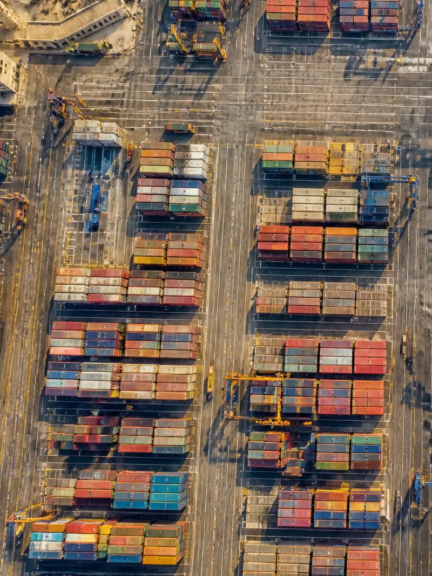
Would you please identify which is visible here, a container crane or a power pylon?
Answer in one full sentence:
This aerial view contains a container crane.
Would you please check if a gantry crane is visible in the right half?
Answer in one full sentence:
Yes, a gantry crane shows up in the right half.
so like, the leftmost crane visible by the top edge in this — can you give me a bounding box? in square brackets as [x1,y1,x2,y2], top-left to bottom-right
[168,17,229,58]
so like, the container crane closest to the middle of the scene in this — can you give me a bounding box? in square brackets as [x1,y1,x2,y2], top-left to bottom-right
[226,372,288,423]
